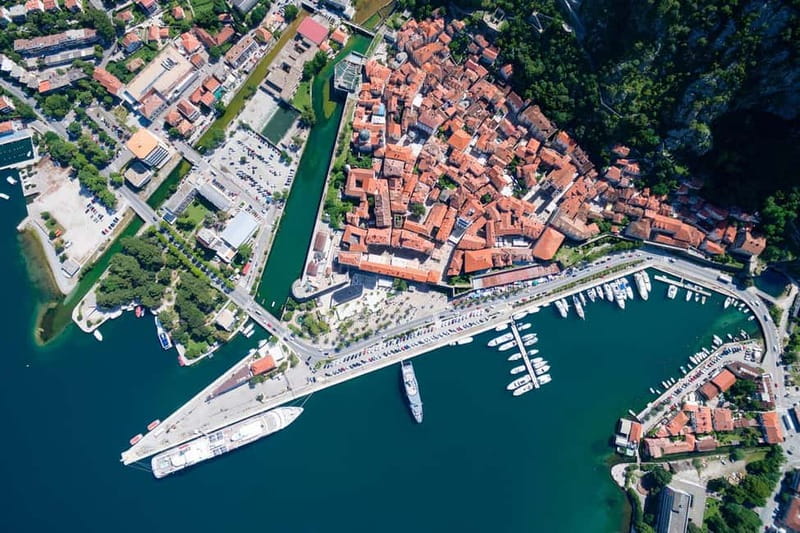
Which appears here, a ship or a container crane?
ship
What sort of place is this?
residential area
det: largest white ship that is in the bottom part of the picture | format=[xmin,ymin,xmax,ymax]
[152,408,302,474]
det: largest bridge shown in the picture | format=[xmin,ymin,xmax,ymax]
[247,299,283,338]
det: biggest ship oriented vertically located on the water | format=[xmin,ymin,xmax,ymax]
[401,356,421,421]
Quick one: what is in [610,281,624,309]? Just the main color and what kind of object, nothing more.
white boat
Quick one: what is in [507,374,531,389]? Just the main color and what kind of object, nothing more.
white boat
